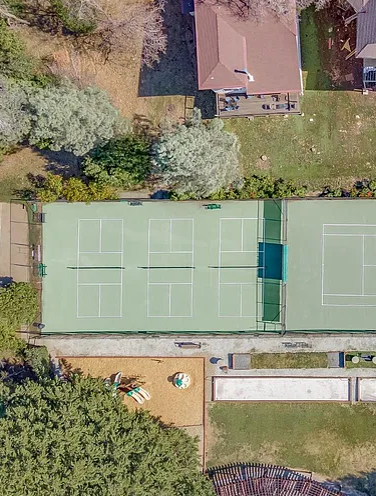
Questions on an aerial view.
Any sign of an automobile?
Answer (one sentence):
No, no automobile can be seen from above.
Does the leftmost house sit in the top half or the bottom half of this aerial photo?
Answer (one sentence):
The top half of the photo is where the leftmost house is.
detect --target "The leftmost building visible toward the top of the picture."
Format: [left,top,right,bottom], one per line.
[181,0,309,120]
